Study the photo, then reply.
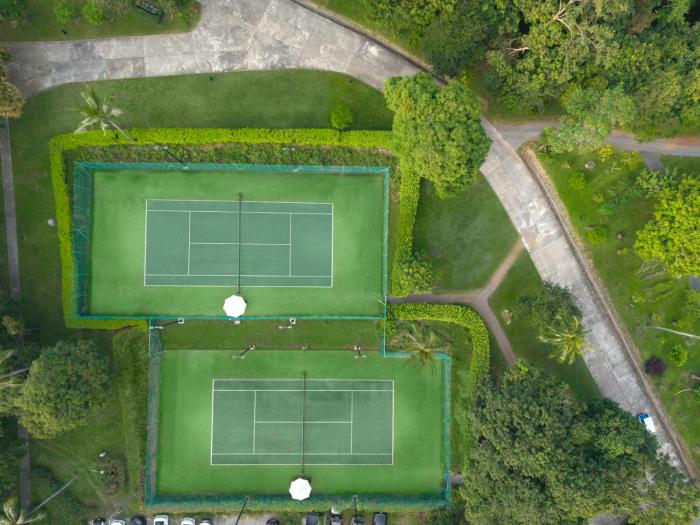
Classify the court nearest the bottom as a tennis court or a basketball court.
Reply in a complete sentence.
The court nearest the bottom in the image is a tennis court.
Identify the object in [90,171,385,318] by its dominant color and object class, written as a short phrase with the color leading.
green tennis court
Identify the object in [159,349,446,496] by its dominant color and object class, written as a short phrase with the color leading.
green tennis court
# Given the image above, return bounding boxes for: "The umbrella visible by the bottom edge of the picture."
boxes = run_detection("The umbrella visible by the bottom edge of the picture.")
[288,476,312,500]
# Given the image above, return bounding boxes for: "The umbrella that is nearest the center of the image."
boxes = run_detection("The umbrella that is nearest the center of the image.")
[223,294,246,317]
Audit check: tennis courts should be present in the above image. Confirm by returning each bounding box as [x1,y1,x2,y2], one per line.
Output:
[159,349,446,496]
[90,171,385,318]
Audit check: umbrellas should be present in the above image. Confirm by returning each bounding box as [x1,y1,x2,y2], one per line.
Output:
[288,476,312,500]
[223,294,246,317]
